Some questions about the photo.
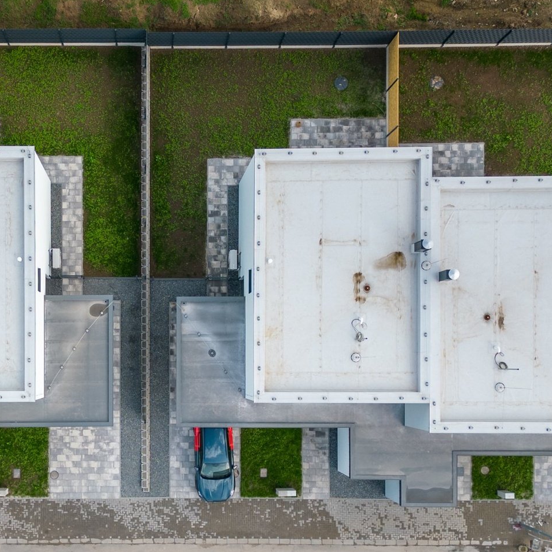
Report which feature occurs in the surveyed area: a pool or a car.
car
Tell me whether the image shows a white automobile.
No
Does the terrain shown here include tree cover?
No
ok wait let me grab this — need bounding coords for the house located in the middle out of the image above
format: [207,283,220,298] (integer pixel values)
[176,149,447,479]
